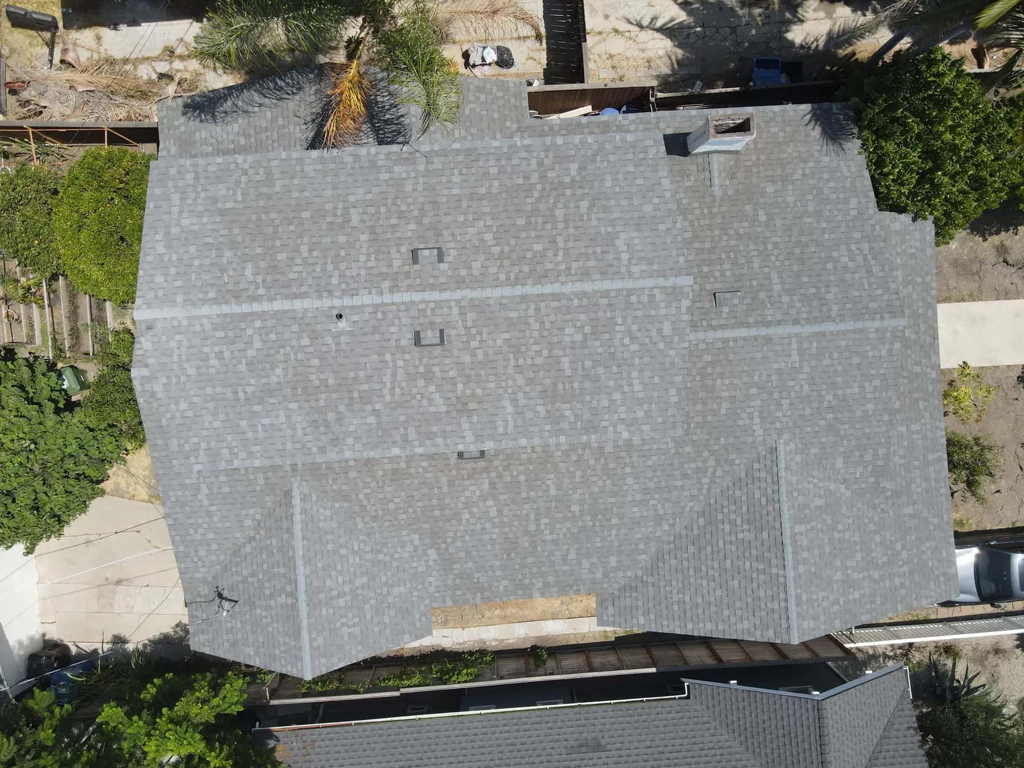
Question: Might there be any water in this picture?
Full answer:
No, there is no water in the image.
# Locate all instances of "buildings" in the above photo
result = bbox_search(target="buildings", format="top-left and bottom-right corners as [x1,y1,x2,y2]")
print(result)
[252,640,932,768]
[130,63,953,682]
[0,552,50,725]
